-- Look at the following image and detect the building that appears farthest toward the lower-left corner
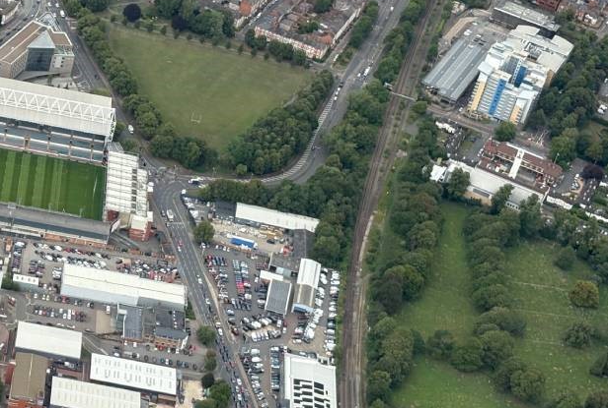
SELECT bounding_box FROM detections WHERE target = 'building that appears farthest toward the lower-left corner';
[8,351,49,408]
